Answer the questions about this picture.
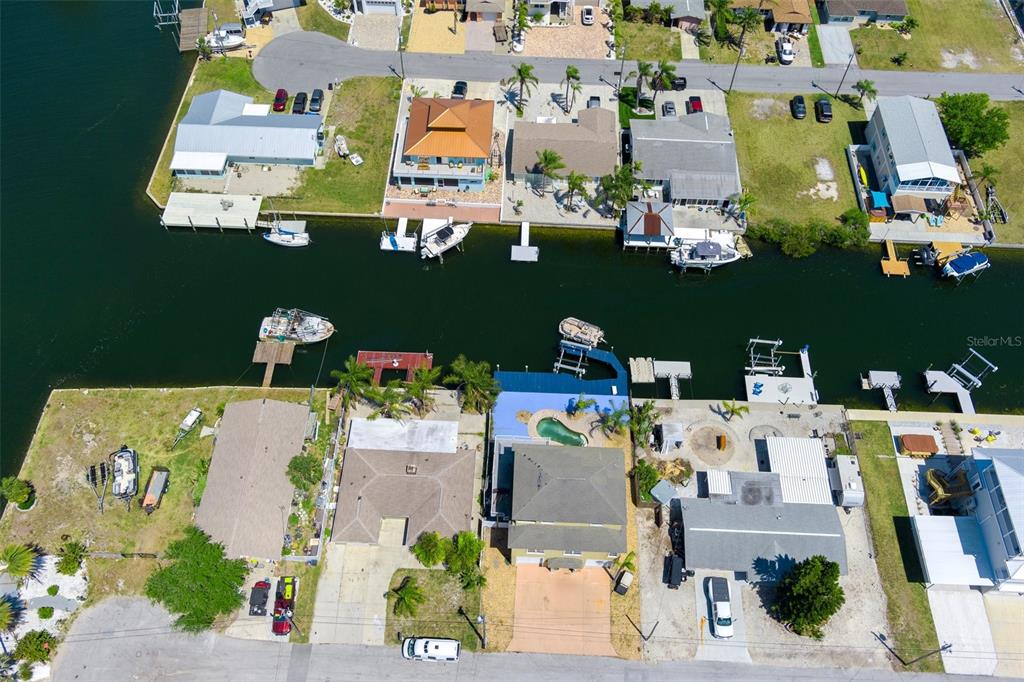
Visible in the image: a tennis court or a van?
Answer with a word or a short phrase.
van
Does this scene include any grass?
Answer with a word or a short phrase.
Yes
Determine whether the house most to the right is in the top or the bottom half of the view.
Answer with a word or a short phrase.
bottom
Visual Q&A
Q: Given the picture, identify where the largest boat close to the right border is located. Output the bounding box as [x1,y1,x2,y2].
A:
[938,252,995,277]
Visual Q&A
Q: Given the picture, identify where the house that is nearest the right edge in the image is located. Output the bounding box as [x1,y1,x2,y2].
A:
[952,448,1024,594]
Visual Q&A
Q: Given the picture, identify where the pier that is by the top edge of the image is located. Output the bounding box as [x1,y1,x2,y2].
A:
[177,4,208,57]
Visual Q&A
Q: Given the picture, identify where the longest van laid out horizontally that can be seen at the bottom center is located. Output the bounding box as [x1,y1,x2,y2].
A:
[400,633,461,661]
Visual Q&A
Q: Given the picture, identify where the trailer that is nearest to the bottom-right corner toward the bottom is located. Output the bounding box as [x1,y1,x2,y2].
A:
[827,455,864,514]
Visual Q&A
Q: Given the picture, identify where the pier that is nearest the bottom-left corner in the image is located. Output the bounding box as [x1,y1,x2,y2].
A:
[250,338,298,386]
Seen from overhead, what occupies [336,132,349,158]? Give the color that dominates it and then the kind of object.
white boat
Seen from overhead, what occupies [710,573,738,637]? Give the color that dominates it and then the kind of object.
white truck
